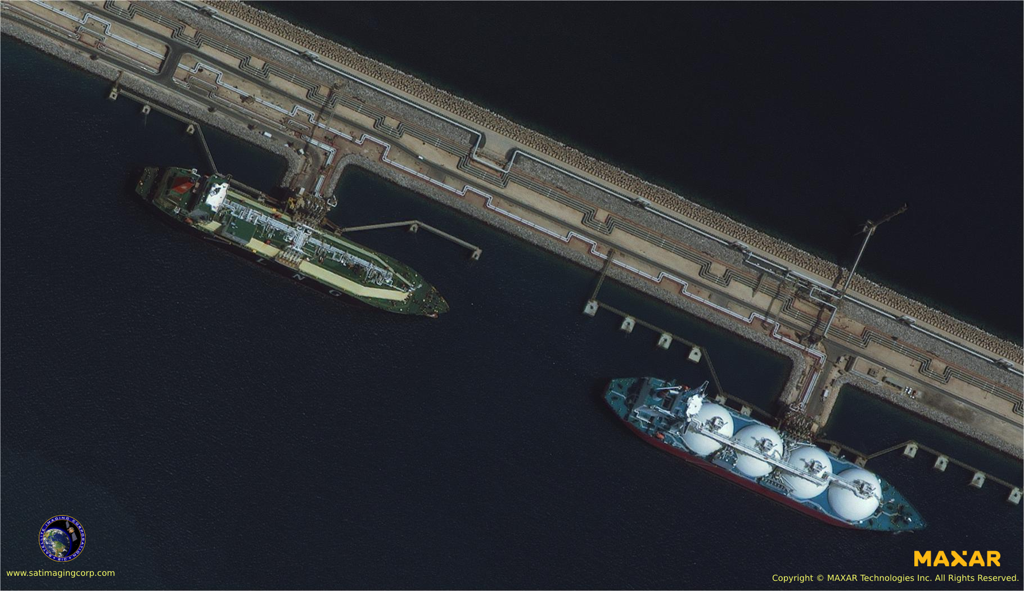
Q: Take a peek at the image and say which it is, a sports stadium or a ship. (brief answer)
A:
ship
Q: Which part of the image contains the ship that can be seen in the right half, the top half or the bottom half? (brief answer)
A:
bottom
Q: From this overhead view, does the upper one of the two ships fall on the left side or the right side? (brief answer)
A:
left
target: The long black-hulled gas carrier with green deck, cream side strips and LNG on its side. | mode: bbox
[137,167,450,319]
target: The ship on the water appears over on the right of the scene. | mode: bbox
[604,378,925,534]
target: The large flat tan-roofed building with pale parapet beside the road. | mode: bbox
[849,356,885,384]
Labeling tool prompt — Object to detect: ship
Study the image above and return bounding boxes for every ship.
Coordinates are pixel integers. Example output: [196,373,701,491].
[604,378,925,534]
[137,167,450,319]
